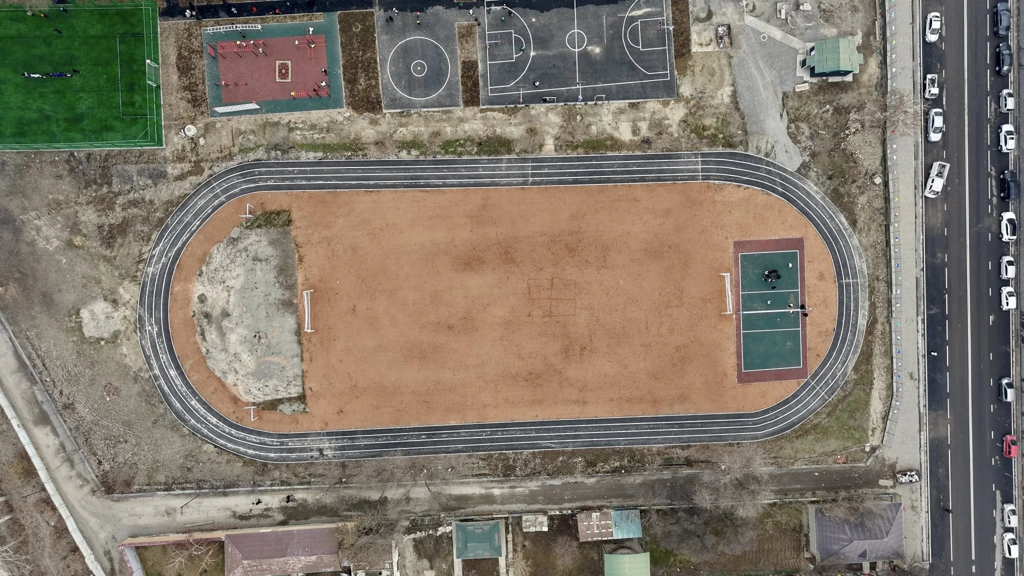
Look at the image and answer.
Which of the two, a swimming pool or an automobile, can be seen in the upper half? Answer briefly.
automobile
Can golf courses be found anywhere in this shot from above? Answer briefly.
No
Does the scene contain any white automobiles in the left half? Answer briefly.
No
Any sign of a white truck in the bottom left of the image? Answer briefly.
No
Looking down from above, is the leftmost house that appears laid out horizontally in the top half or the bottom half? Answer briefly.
bottom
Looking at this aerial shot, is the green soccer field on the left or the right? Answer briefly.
left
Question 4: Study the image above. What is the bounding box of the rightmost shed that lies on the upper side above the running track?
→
[800,38,863,77]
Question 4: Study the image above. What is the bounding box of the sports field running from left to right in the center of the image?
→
[169,182,838,433]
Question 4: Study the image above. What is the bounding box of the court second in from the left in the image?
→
[375,0,481,112]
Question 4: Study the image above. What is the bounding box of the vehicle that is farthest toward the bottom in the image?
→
[1003,534,1020,561]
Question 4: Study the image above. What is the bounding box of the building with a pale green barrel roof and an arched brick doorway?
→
[601,546,650,576]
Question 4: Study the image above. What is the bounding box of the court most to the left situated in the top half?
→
[201,12,345,119]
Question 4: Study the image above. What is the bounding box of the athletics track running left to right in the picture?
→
[138,151,868,463]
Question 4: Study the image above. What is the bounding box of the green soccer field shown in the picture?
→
[0,0,165,150]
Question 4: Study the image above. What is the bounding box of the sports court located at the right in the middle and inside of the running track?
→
[733,236,809,384]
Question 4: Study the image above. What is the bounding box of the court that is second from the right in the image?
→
[476,0,677,107]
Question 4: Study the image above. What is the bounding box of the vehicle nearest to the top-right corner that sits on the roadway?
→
[995,2,1012,35]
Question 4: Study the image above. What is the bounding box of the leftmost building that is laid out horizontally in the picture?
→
[225,522,342,576]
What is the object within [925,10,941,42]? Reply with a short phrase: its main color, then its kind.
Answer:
white car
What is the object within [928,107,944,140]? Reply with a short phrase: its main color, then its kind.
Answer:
white car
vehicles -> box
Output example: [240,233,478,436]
[927,160,951,198]
[1000,87,1016,111]
[1000,378,1016,403]
[1001,212,1019,240]
[1001,287,1017,310]
[1001,169,1020,200]
[925,10,941,42]
[1001,256,1017,279]
[1004,436,1020,459]
[928,107,944,140]
[996,42,1013,74]
[1003,504,1020,530]
[1000,124,1016,151]
[925,72,941,98]
[1003,534,1020,561]
[995,2,1012,35]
